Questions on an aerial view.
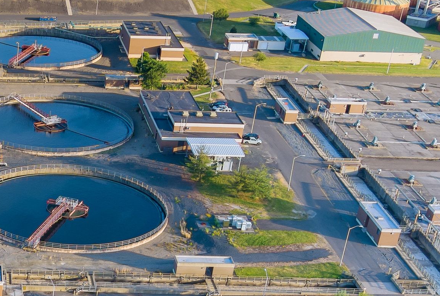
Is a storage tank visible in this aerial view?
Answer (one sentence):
Yes, the image includes a storage tank.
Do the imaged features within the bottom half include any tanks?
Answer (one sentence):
Yes, the scene does show a tank within the bottom half.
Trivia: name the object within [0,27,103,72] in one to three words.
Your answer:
storage tank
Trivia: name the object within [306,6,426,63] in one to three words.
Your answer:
shed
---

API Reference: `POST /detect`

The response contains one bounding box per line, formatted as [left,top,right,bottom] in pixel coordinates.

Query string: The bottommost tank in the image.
[0,164,167,258]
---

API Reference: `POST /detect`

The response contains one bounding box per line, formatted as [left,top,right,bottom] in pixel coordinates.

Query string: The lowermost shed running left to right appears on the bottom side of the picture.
[173,252,236,276]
